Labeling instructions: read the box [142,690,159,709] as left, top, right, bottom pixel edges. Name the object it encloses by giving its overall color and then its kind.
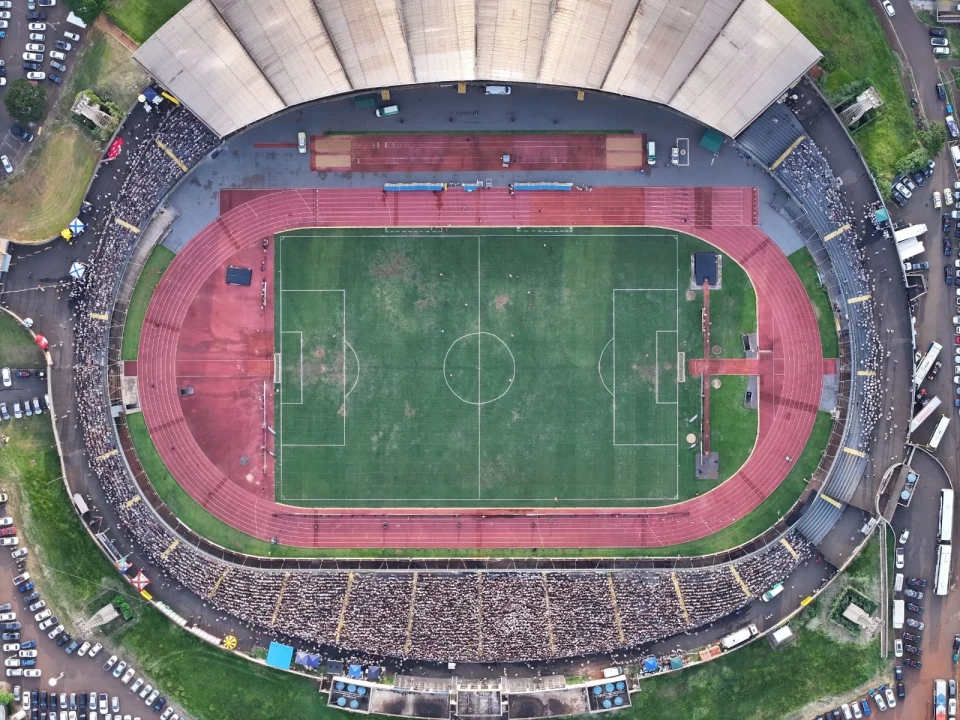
white car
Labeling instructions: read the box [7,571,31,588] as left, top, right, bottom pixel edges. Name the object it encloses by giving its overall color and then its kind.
white vehicle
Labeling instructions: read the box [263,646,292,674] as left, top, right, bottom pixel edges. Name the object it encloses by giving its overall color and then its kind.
blue tent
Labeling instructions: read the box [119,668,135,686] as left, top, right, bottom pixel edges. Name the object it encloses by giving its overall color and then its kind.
white car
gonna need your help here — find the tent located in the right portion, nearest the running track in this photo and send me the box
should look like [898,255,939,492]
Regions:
[699,127,728,153]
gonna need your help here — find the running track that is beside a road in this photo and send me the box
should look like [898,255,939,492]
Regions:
[122,188,836,548]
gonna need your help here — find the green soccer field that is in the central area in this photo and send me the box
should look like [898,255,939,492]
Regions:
[274,226,759,509]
